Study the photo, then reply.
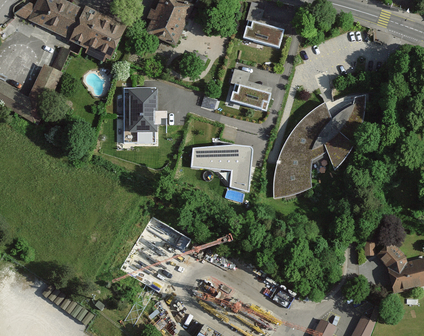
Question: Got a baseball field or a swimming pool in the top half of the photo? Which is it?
swimming pool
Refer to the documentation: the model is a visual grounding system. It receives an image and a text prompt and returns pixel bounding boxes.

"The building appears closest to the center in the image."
[190,144,252,192]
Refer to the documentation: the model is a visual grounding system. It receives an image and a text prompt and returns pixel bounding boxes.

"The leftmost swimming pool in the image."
[82,70,110,99]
